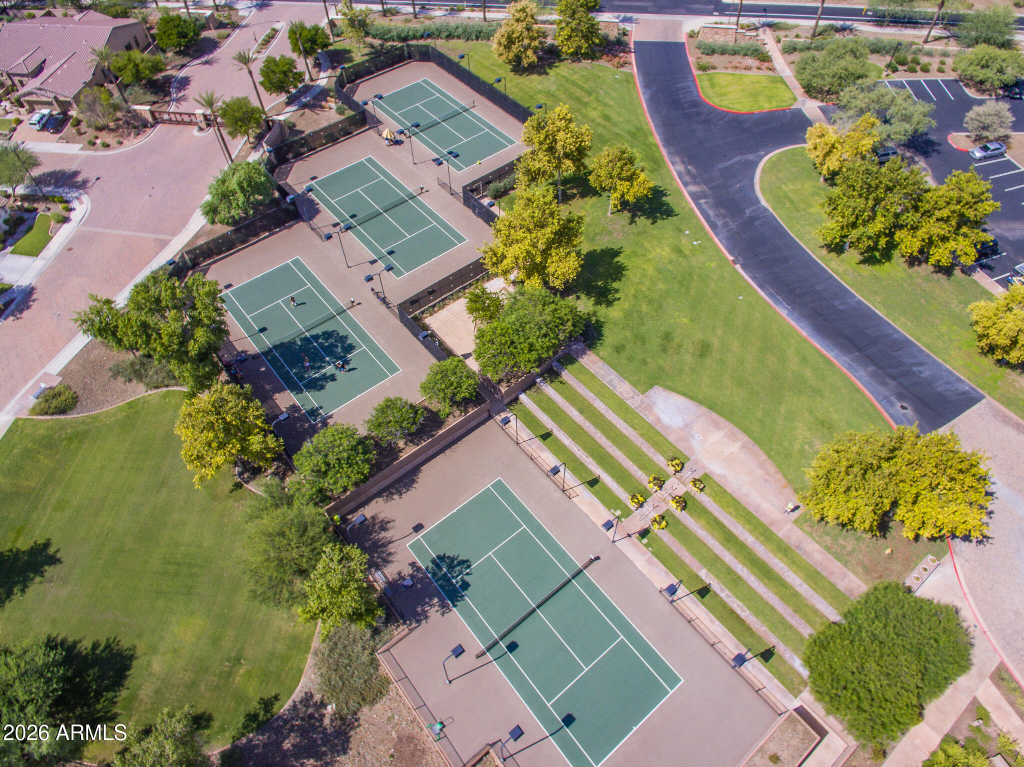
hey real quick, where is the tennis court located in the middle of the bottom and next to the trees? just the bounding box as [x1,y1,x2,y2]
[335,417,781,767]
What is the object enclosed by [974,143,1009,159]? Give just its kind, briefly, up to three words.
car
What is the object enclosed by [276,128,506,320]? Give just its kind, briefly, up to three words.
tennis court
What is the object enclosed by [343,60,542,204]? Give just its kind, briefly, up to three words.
tennis court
